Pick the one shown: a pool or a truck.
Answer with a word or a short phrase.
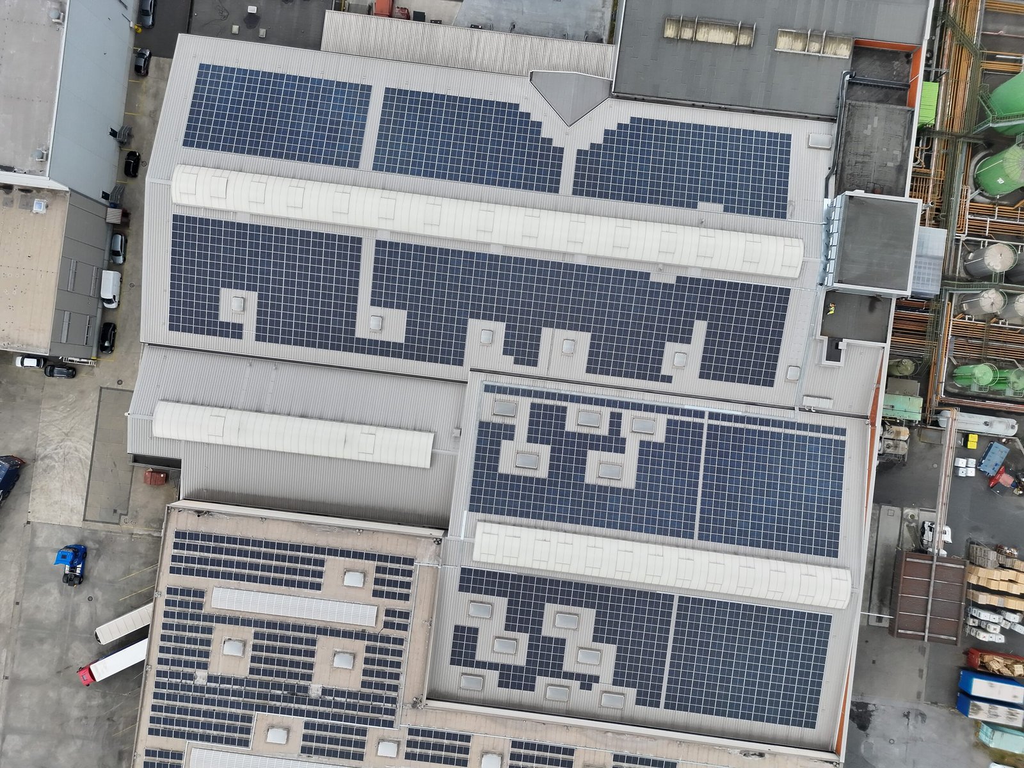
truck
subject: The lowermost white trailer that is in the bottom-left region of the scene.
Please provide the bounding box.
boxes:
[90,637,146,682]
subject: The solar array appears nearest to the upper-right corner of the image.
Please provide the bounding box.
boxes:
[572,116,792,219]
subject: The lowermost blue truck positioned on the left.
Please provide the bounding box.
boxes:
[55,544,87,587]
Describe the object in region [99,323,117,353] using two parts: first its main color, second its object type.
black car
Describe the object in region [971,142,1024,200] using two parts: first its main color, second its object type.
green storage tank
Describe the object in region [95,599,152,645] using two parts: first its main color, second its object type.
white trailer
